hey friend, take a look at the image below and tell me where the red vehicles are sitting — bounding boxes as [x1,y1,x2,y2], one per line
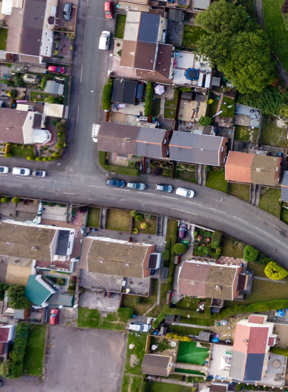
[49,307,59,325]
[47,67,66,74]
[104,0,115,19]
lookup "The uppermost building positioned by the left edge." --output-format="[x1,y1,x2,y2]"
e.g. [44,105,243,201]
[9,0,62,31]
